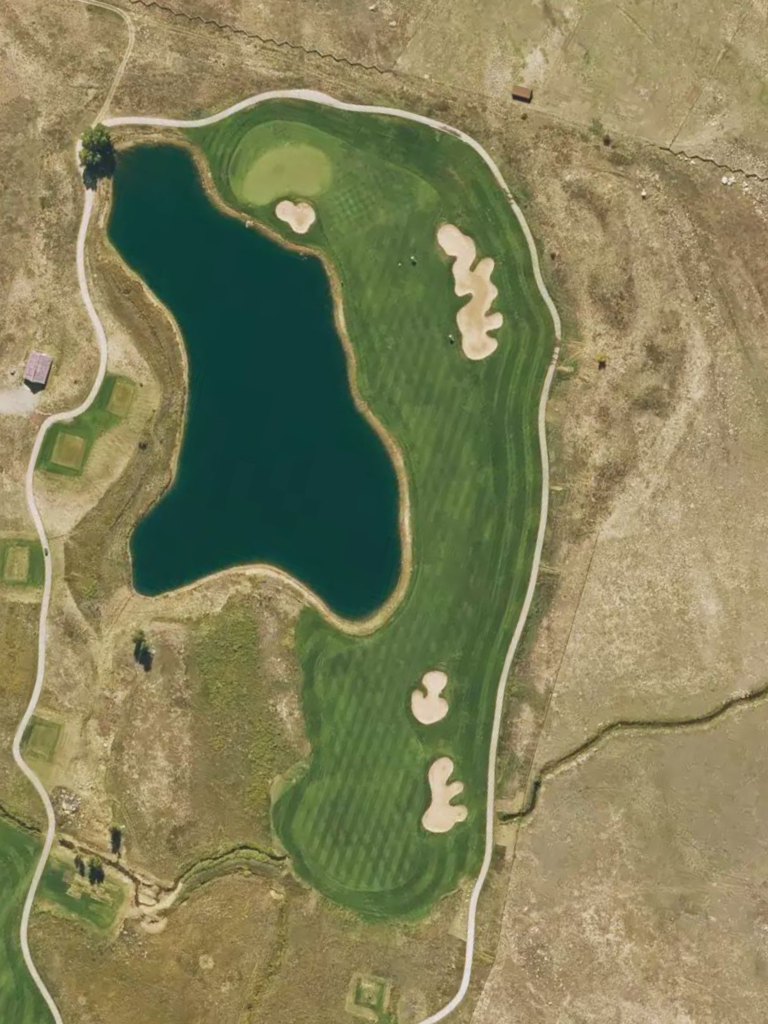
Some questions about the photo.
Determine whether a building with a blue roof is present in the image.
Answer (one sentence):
No, there appears to be no building with a blue roof in this shot.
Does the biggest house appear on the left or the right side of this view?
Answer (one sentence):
The biggest house sits on the left side.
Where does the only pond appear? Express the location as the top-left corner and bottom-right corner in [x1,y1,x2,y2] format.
[107,143,401,620]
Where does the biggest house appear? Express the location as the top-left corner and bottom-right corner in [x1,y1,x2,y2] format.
[22,350,52,385]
